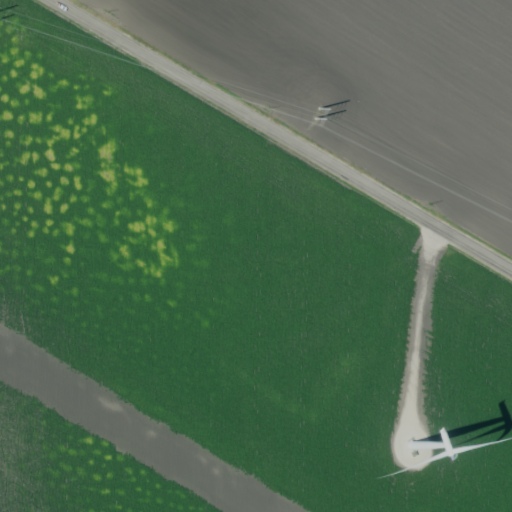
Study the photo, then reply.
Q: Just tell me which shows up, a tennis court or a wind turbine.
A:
wind turbine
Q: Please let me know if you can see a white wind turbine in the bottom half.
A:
Yes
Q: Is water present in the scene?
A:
No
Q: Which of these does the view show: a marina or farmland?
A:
farmland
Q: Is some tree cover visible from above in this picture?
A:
No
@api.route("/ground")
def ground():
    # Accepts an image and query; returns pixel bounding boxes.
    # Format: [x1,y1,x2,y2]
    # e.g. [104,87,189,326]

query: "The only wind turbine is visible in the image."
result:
[380,428,512,480]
